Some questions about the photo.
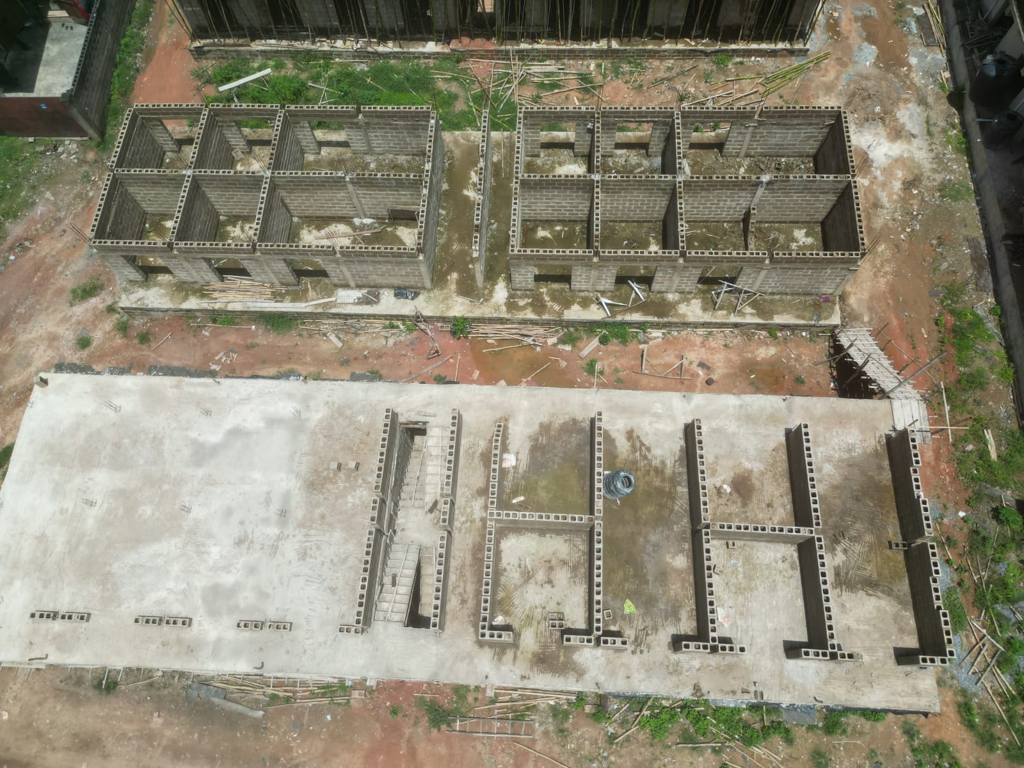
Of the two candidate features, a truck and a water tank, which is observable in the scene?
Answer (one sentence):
I can see a water tank in this picture.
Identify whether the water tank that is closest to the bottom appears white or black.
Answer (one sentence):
From above, the water tank that is closest to the bottom appears black.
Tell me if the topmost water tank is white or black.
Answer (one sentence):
From above, the topmost water tank appears black.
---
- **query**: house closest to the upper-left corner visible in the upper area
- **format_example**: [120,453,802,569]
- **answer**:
[0,0,97,142]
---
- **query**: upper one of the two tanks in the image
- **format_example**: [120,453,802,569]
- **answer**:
[972,58,1023,110]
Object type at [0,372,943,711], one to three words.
building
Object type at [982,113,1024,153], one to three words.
water tank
